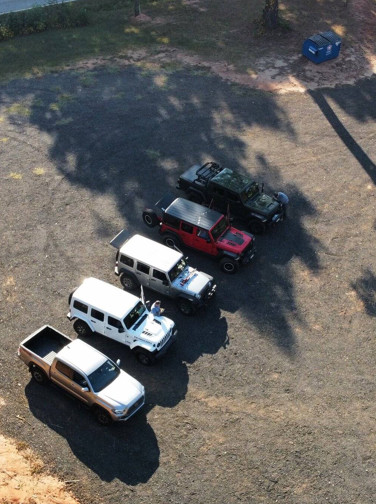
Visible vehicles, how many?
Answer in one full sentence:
The number of vehicles here is 5.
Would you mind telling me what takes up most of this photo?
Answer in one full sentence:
Most of the picture is covered by paved ground.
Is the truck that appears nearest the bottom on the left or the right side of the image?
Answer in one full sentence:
You can find the truck that appears nearest the bottom on the left side of the picture.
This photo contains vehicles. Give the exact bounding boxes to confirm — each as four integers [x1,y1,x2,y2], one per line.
[112,226,224,316]
[174,159,286,234]
[13,321,153,428]
[141,191,263,276]
[70,273,185,366]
